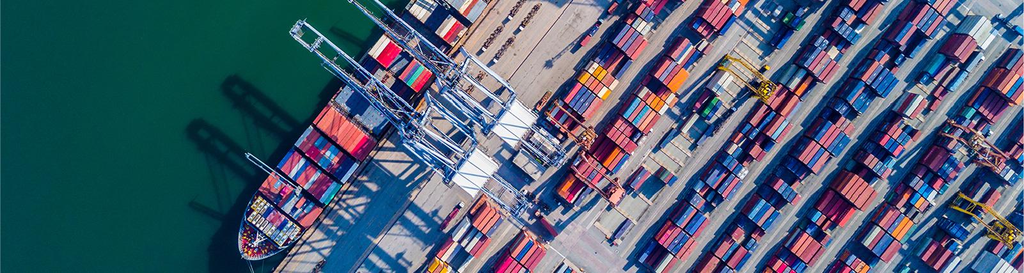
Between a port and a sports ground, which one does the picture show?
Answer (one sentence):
This image shows a port.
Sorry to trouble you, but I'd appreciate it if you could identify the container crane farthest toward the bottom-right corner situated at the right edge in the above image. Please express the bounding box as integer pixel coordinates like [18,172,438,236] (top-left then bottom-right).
[941,191,1024,250]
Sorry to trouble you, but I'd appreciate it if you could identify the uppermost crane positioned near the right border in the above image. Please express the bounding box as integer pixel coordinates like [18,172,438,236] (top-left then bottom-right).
[930,119,1017,173]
